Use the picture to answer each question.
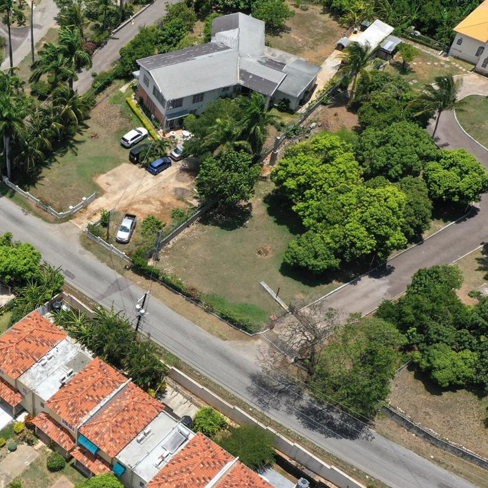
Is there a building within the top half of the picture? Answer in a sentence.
Yes, a building is visible within the top half of the picture.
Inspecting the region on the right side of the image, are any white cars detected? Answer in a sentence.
No, no white car can be made out on the right side of the image.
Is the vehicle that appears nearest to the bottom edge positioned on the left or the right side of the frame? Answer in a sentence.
The vehicle that appears nearest to the bottom edge sits on the left side.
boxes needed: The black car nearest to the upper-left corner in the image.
[125,143,155,163]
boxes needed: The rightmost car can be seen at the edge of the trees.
[165,142,192,163]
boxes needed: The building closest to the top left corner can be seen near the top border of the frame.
[132,11,319,125]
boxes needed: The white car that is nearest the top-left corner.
[119,129,148,146]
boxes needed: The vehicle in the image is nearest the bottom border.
[116,213,136,243]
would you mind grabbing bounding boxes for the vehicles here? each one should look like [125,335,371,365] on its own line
[116,213,136,243]
[119,129,148,146]
[145,158,172,175]
[125,143,155,163]
[165,142,192,163]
